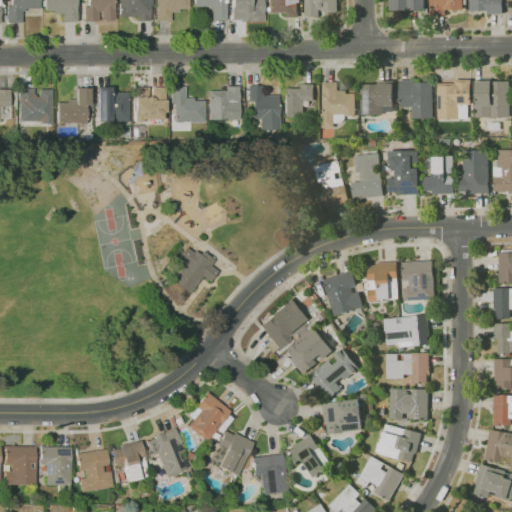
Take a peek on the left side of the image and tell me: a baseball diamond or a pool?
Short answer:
pool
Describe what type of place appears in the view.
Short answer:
residential area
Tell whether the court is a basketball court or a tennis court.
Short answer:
basketball court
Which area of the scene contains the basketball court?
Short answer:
left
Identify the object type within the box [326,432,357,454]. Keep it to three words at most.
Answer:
swimming pool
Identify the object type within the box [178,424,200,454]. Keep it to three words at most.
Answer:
swimming pool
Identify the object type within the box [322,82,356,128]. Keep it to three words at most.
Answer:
house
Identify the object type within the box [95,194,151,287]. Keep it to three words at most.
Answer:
basketball court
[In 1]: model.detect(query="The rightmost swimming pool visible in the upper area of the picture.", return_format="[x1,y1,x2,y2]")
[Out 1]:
[361,116,396,136]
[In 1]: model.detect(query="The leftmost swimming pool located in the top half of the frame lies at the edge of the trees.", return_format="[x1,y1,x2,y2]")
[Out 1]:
[306,140,332,159]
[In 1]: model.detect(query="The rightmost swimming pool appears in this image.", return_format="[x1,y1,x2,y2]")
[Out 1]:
[400,300,428,316]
